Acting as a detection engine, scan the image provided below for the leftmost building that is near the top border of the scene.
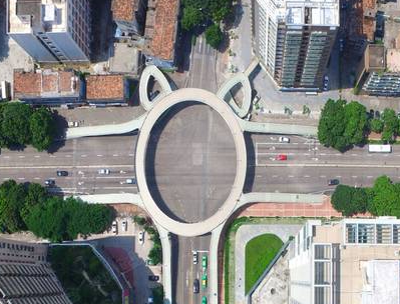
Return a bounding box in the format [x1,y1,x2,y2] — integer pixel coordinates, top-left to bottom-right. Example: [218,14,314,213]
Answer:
[6,0,93,63]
